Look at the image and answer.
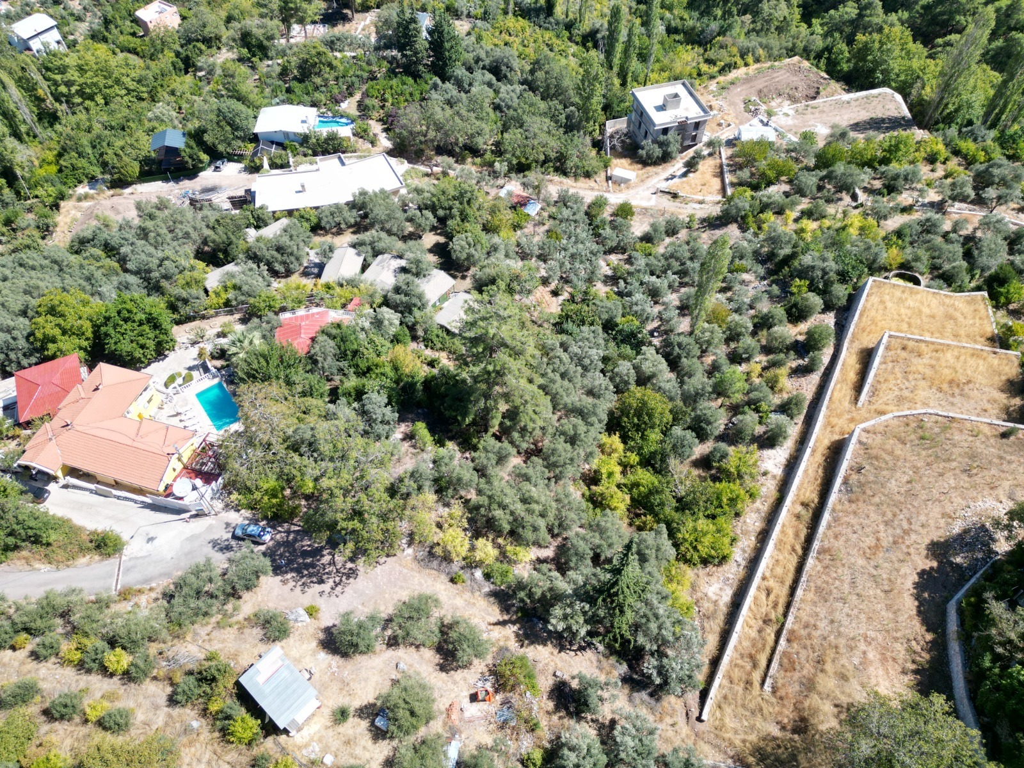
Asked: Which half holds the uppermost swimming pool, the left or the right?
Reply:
left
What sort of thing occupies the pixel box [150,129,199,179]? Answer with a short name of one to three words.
building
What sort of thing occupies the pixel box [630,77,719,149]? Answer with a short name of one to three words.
house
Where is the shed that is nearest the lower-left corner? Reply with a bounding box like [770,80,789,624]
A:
[239,645,320,733]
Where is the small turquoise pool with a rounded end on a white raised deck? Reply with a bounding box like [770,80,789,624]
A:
[314,113,358,147]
